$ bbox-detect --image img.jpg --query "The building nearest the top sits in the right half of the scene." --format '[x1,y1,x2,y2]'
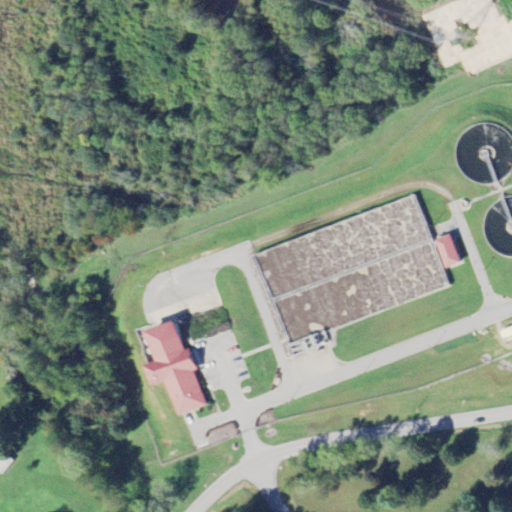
[436,234,460,266]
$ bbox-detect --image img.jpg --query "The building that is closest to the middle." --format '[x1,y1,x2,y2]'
[141,322,208,416]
